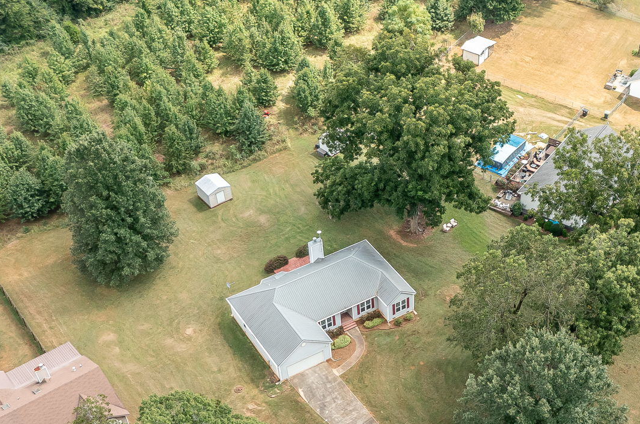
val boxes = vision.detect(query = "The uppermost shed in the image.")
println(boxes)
[467,36,498,64]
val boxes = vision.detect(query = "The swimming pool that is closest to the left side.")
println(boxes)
[484,133,530,170]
